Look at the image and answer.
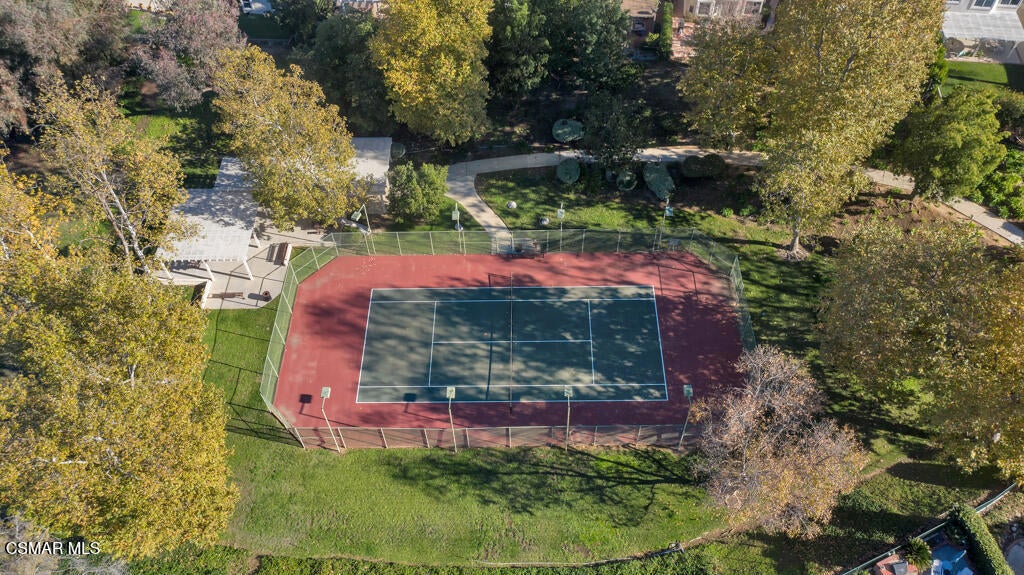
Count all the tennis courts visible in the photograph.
1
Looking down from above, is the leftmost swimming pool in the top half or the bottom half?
bottom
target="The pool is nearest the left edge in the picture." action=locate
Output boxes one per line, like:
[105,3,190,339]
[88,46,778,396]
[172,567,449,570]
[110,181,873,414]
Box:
[926,535,976,575]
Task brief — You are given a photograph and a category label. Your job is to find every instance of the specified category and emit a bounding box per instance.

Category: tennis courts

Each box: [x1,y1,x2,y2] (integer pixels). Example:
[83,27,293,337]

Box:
[270,250,754,448]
